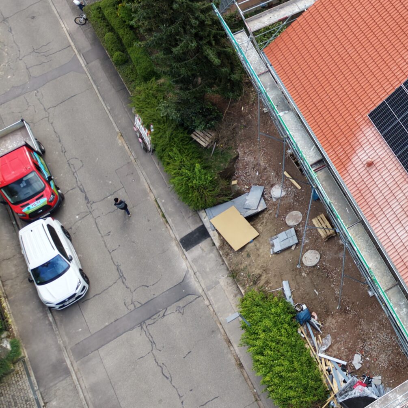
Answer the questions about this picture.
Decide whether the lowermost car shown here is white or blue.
white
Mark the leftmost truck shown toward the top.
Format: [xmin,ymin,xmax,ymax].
[0,107,61,217]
